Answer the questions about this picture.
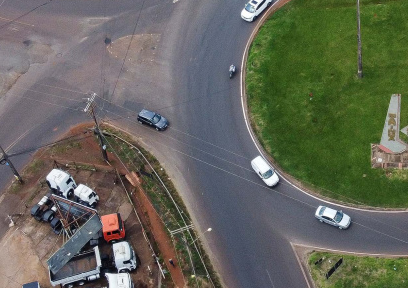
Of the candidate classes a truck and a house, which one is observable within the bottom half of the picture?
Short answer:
truck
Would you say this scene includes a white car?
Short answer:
Yes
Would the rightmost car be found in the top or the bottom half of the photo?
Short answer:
bottom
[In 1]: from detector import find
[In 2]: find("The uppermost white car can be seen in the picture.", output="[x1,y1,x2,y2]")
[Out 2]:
[242,0,271,20]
